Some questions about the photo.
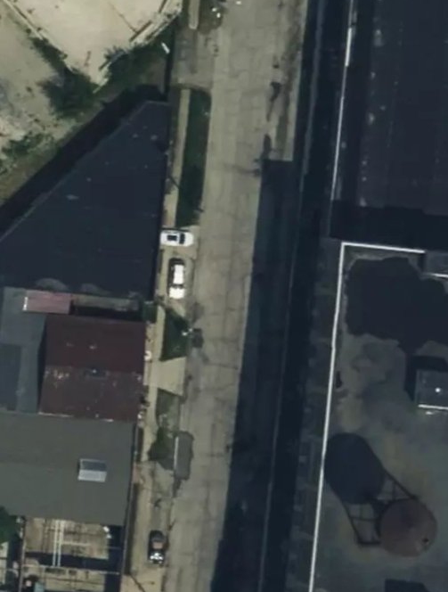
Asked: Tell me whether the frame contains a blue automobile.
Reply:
No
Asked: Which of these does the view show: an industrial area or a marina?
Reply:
industrial area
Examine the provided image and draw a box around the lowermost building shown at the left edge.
[0,410,137,527]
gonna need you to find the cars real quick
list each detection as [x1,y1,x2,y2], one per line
[167,260,186,299]
[149,530,167,566]
[160,231,196,248]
